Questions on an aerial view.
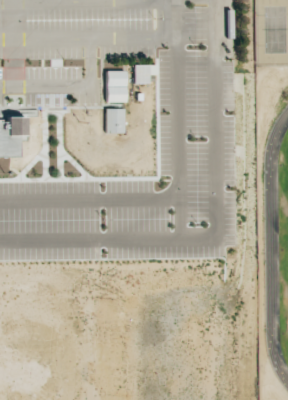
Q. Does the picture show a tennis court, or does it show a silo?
tennis court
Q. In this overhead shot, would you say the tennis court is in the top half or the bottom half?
top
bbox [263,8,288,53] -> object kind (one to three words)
tennis court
